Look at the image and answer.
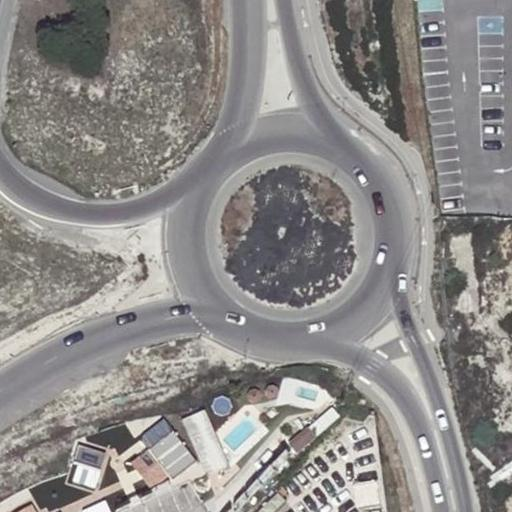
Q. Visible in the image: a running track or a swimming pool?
swimming pool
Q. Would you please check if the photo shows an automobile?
Yes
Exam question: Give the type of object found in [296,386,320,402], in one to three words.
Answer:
swimming pool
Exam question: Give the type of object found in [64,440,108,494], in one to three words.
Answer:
house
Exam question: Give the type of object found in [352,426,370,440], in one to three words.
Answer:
vehicle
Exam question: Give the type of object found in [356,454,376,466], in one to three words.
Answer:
vehicle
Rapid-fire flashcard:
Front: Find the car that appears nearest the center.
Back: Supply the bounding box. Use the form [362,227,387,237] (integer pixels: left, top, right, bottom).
[224,312,246,324]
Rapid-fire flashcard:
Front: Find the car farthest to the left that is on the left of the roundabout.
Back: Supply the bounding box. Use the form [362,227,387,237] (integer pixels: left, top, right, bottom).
[63,331,85,346]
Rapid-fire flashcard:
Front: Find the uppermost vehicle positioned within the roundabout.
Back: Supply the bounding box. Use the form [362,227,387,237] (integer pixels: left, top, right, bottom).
[352,166,370,189]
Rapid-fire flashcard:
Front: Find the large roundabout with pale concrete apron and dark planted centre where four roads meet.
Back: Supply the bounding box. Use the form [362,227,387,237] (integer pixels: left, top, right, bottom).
[164,111,416,363]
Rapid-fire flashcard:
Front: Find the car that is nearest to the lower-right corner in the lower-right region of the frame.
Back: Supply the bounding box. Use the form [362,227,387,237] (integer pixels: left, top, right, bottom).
[432,481,444,503]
